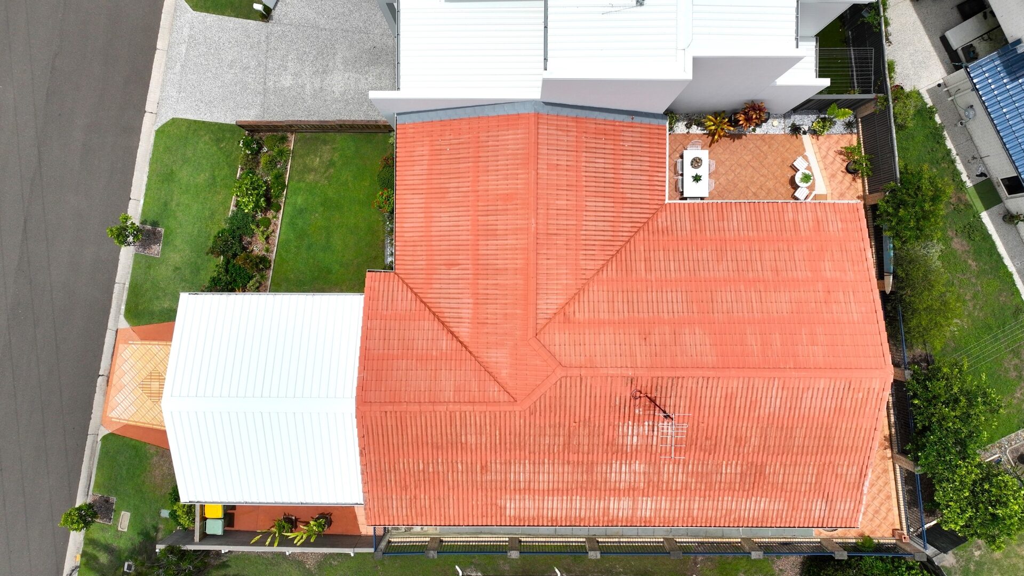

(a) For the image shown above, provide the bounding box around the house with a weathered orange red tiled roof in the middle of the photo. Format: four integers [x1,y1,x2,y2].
[352,100,895,530]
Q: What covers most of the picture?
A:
buildings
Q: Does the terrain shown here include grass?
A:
Yes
